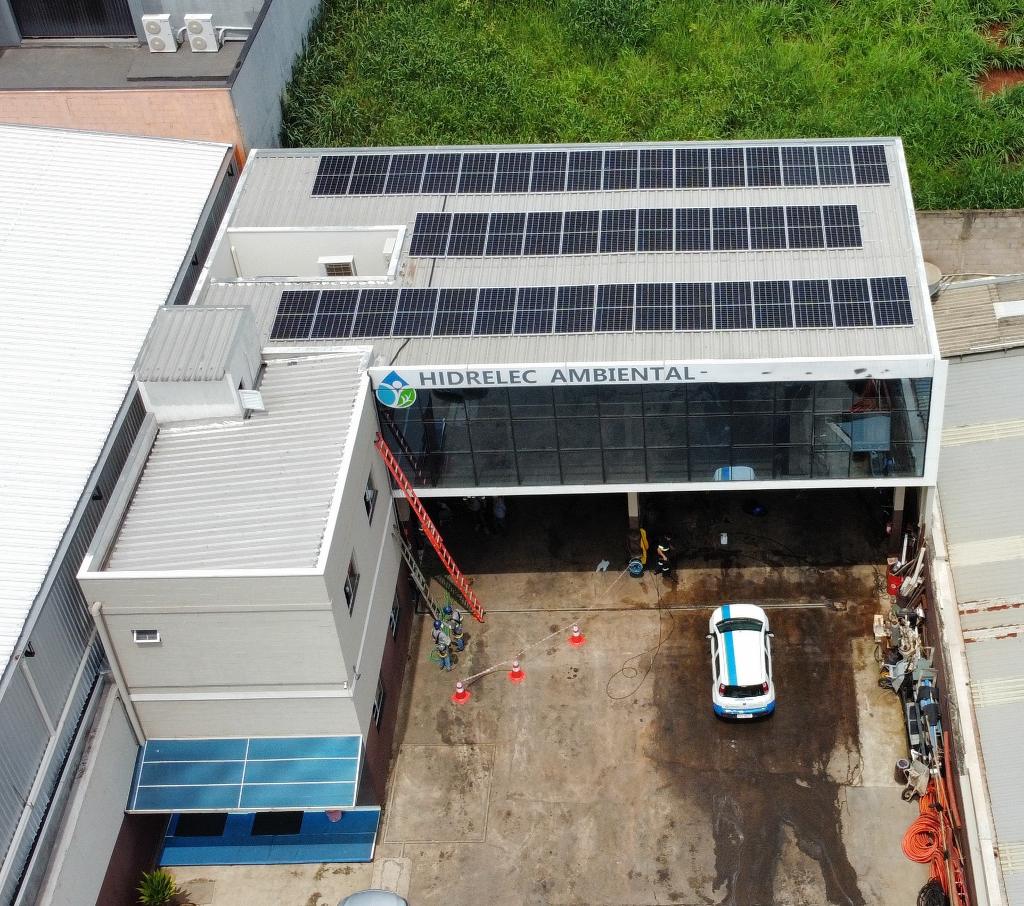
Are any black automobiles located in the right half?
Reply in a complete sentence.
No, in the right half there is no black automobile.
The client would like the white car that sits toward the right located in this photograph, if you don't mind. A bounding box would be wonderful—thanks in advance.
[703,612,777,725]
